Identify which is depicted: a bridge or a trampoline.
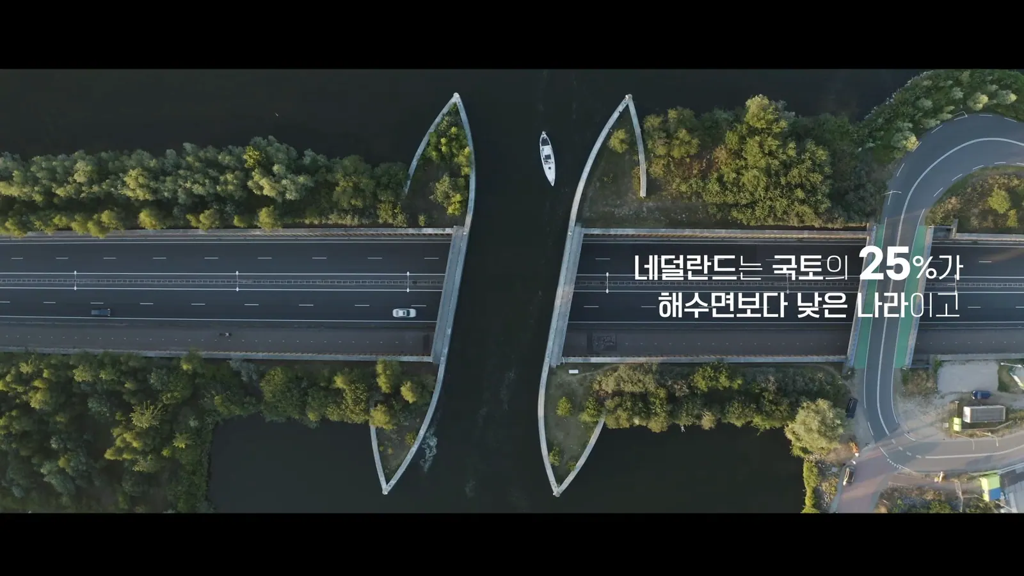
bridge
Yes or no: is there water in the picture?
Yes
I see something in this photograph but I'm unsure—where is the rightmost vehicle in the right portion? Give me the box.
[970,389,993,401]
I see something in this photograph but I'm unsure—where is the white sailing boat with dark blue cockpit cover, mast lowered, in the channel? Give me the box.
[539,130,556,186]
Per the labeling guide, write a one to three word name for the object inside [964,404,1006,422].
building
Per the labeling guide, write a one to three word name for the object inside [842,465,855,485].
vehicle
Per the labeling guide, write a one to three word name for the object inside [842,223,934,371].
bridge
